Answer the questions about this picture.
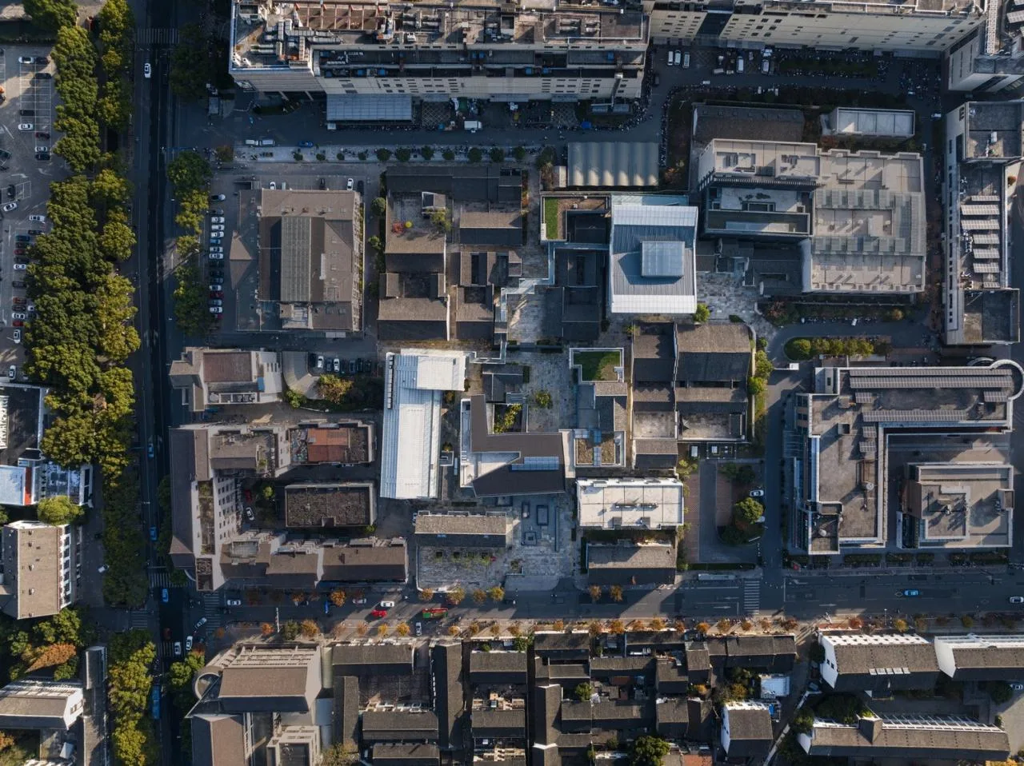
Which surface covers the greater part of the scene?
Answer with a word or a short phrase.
buildings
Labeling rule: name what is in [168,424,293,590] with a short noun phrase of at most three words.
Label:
building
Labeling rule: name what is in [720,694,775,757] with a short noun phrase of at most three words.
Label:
house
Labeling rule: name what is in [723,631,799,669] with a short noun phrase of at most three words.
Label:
house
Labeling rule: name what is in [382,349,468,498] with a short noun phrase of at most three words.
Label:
building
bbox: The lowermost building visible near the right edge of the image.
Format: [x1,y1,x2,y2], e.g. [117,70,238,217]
[802,710,1014,761]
